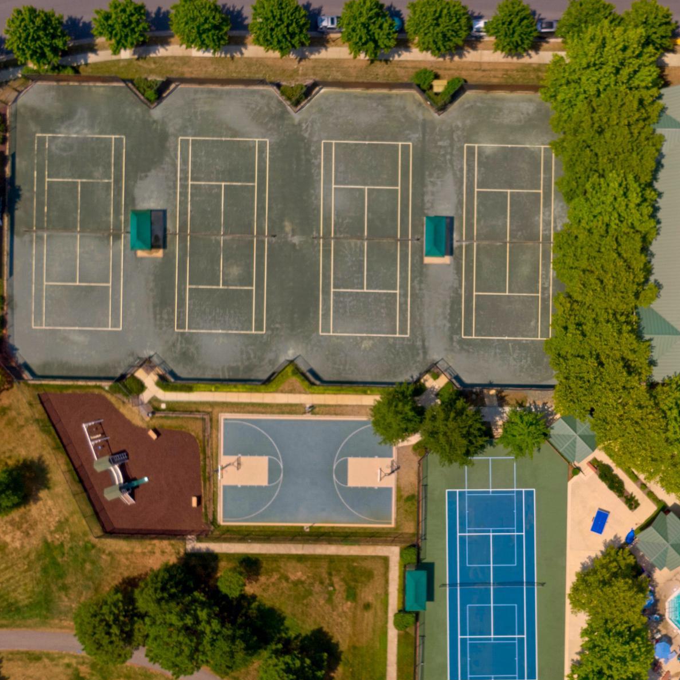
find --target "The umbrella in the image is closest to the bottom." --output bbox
[654,641,671,658]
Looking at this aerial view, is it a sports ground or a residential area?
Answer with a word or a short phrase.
sports ground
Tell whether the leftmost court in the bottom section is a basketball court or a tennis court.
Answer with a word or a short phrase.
basketball court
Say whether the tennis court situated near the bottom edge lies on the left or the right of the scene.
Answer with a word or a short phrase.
right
